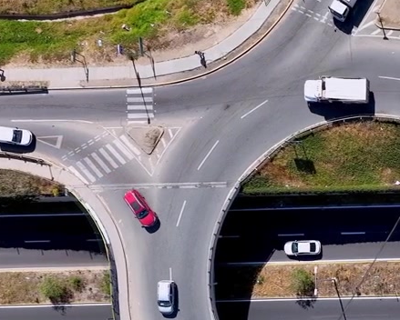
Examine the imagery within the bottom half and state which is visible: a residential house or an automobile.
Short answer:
automobile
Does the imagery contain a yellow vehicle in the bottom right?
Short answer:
No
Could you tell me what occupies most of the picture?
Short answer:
paved ground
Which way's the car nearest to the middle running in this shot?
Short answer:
diagonally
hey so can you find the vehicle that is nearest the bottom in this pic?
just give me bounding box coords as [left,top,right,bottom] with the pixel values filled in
[158,281,178,314]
